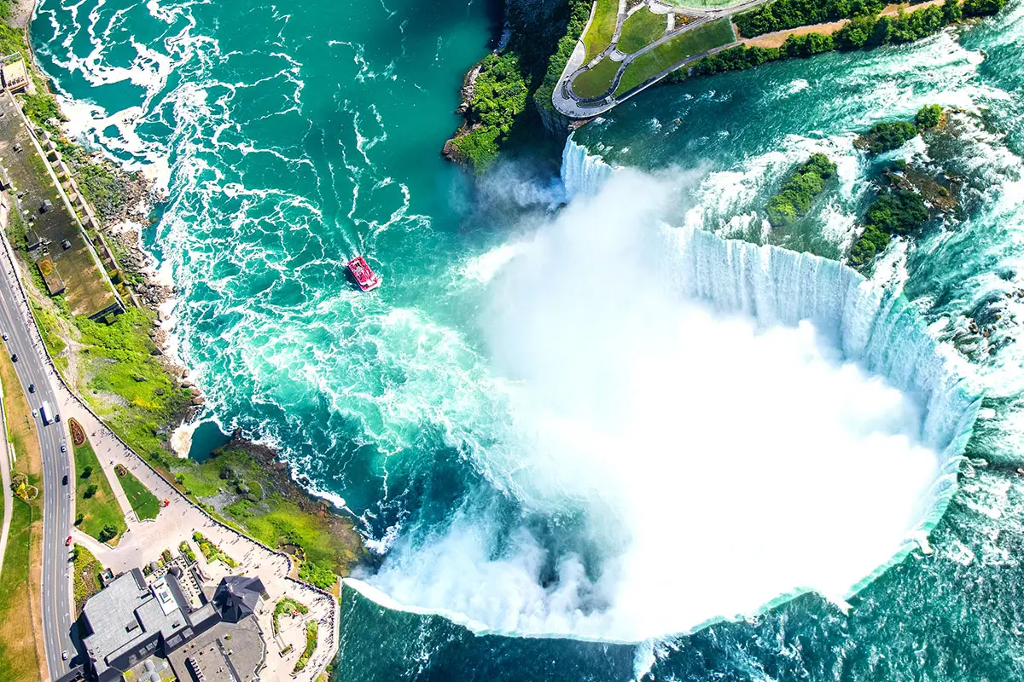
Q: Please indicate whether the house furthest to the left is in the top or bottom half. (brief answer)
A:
top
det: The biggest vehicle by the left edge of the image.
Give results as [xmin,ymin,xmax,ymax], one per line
[41,405,53,424]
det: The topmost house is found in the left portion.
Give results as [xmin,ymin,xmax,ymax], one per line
[0,49,34,94]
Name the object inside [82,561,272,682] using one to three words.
building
